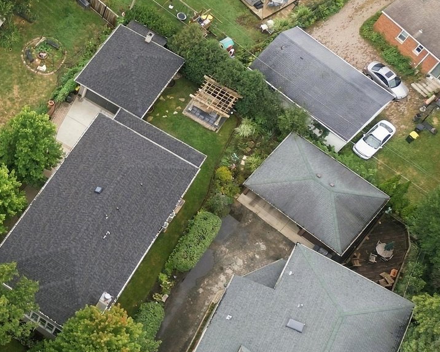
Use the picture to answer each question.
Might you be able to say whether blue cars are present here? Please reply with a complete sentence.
No, the picture doesn't show any blue car.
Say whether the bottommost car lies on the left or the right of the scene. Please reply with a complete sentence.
The bottommost car appears in the right half of the scene.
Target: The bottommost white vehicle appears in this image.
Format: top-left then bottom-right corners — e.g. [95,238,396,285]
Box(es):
[350,119,397,160]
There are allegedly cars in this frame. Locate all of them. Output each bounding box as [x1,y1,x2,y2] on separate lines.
[350,119,397,160]
[361,59,410,104]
